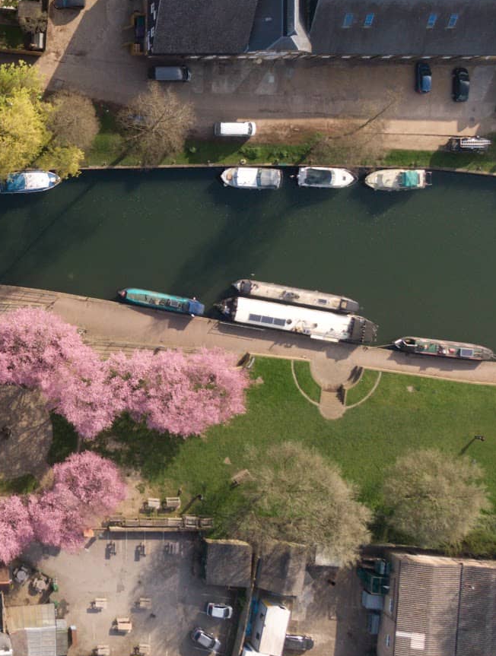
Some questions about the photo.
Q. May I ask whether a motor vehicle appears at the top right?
Yes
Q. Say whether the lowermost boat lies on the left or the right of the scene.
right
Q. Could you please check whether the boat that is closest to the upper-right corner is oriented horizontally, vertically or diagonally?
horizontally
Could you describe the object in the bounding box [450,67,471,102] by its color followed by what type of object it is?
black car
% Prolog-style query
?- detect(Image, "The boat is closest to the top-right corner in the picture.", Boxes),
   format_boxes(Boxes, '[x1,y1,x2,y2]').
[362,169,432,191]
